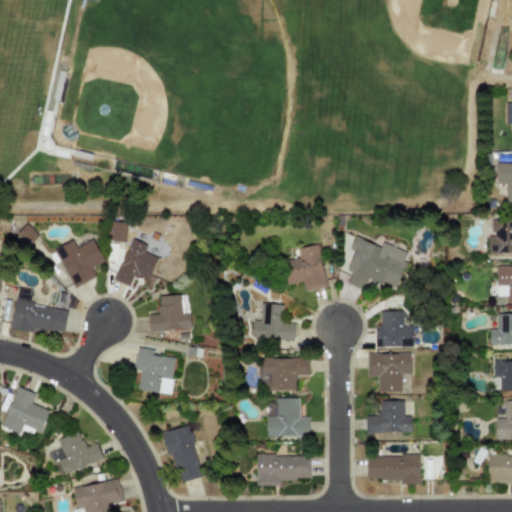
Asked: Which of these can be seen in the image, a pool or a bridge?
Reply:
pool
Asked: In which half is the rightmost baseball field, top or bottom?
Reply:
top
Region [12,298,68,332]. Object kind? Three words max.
house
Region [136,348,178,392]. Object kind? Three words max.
house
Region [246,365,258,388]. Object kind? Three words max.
swimming pool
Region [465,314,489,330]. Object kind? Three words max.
swimming pool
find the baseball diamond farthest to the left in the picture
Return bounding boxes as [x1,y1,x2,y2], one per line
[54,0,290,187]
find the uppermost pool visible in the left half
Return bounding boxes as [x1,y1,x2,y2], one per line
[48,225,71,240]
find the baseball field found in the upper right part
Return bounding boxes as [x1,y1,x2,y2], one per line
[274,0,490,212]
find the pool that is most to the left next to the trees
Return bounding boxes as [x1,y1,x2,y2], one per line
[19,270,40,288]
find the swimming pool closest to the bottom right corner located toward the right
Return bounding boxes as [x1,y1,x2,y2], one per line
[462,420,482,439]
